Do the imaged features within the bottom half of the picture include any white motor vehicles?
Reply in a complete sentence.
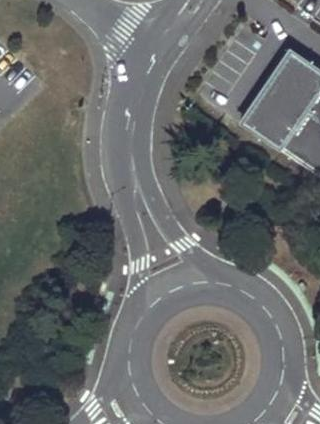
No, the scene shows no white motor vehicle within the bottom half of the picture.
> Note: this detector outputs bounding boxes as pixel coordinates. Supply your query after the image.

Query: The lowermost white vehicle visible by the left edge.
[14,68,34,89]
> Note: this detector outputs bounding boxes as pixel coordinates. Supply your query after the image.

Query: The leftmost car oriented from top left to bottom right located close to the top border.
[250,19,268,38]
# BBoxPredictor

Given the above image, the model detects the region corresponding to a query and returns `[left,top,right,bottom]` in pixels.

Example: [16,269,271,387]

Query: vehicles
[250,19,268,38]
[0,42,8,58]
[116,59,128,82]
[14,68,34,89]
[4,59,25,80]
[0,52,16,71]
[272,18,288,42]
[302,0,317,13]
[210,90,230,106]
